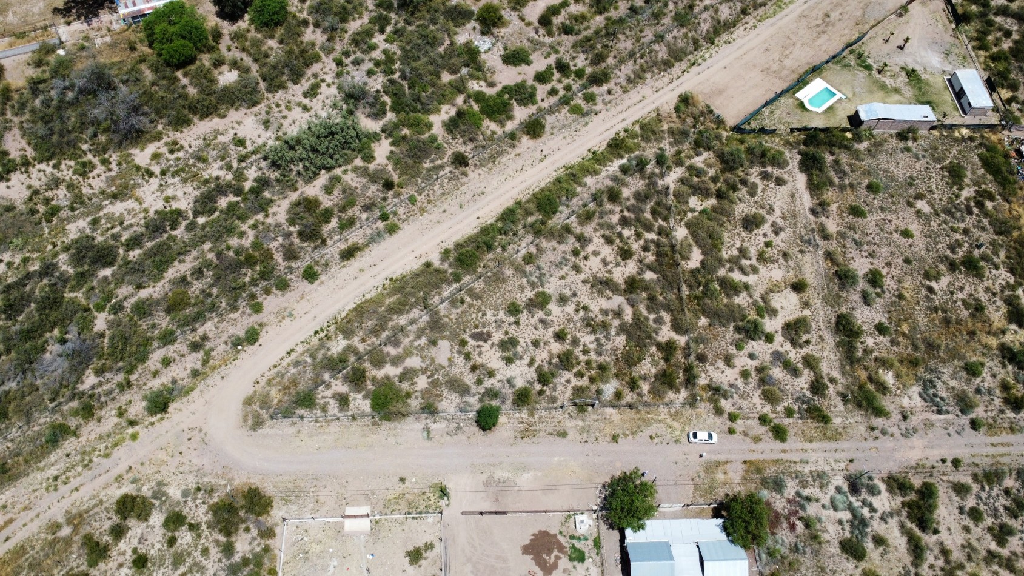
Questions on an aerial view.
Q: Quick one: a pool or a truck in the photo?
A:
pool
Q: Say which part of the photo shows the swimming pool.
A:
top right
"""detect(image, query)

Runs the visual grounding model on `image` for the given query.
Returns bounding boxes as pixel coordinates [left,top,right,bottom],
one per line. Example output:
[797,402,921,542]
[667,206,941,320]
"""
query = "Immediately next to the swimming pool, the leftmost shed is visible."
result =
[851,101,938,131]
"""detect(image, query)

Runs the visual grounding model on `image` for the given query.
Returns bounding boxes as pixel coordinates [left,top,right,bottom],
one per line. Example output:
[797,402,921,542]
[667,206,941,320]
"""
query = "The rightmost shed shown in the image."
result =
[943,70,993,117]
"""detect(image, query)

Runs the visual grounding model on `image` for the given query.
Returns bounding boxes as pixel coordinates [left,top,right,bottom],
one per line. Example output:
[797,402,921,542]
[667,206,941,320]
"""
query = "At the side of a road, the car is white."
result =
[689,430,719,445]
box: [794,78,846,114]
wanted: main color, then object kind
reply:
white swimming pool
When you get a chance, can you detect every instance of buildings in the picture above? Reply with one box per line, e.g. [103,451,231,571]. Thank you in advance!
[622,519,749,576]
[114,0,175,27]
[851,101,938,131]
[943,70,993,117]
